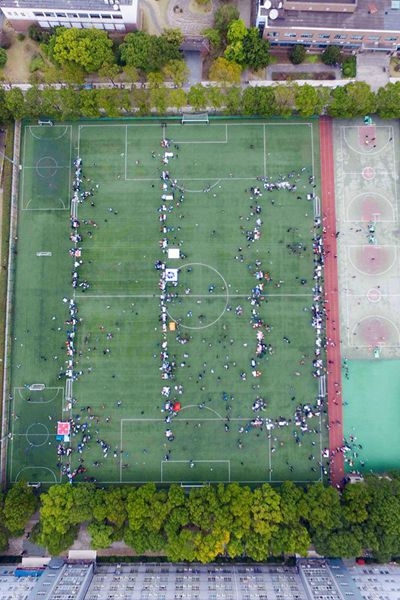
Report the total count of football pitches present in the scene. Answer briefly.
3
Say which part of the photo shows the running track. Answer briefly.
right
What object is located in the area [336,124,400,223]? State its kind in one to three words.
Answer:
basketball court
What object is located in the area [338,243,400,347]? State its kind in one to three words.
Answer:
basketball court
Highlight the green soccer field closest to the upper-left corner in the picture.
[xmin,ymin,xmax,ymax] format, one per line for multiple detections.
[20,125,73,210]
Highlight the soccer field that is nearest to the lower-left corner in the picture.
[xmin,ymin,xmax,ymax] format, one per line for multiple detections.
[11,387,63,483]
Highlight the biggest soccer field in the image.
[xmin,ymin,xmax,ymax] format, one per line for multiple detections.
[67,121,324,485]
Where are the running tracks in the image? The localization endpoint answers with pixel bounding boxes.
[320,117,344,481]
